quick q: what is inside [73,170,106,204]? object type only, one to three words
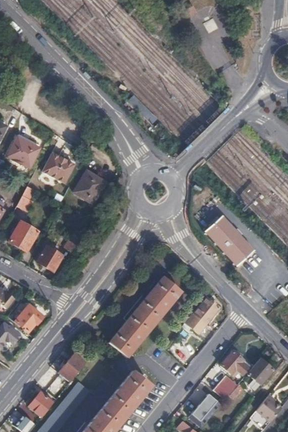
house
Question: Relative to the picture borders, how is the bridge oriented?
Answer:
on a diagonal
